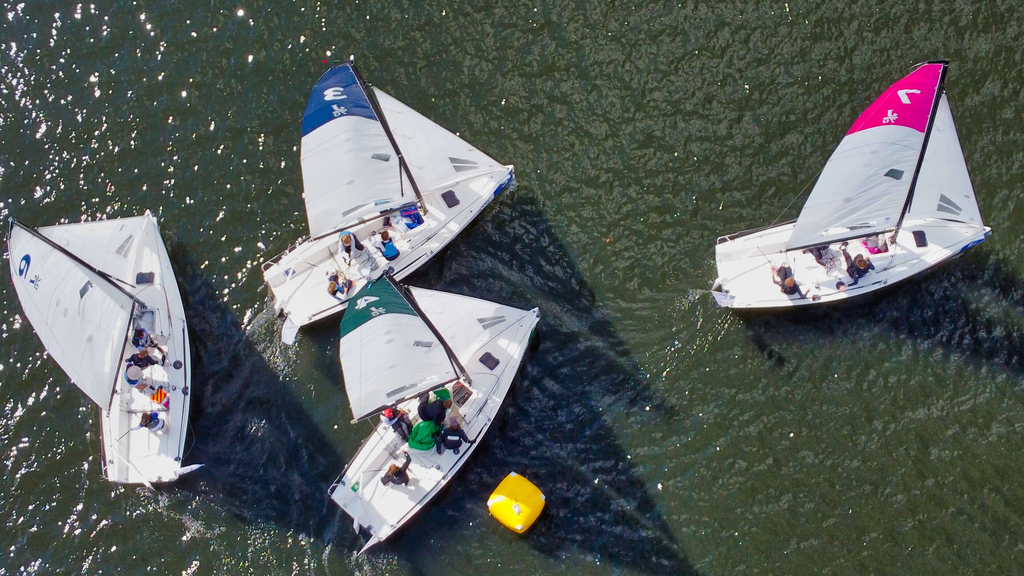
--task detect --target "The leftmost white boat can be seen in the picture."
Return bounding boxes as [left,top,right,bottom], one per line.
[1,211,204,496]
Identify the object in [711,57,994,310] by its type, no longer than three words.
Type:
boat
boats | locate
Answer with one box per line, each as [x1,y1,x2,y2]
[325,267,547,557]
[1,211,204,496]
[711,57,994,310]
[263,55,520,343]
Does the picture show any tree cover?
No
